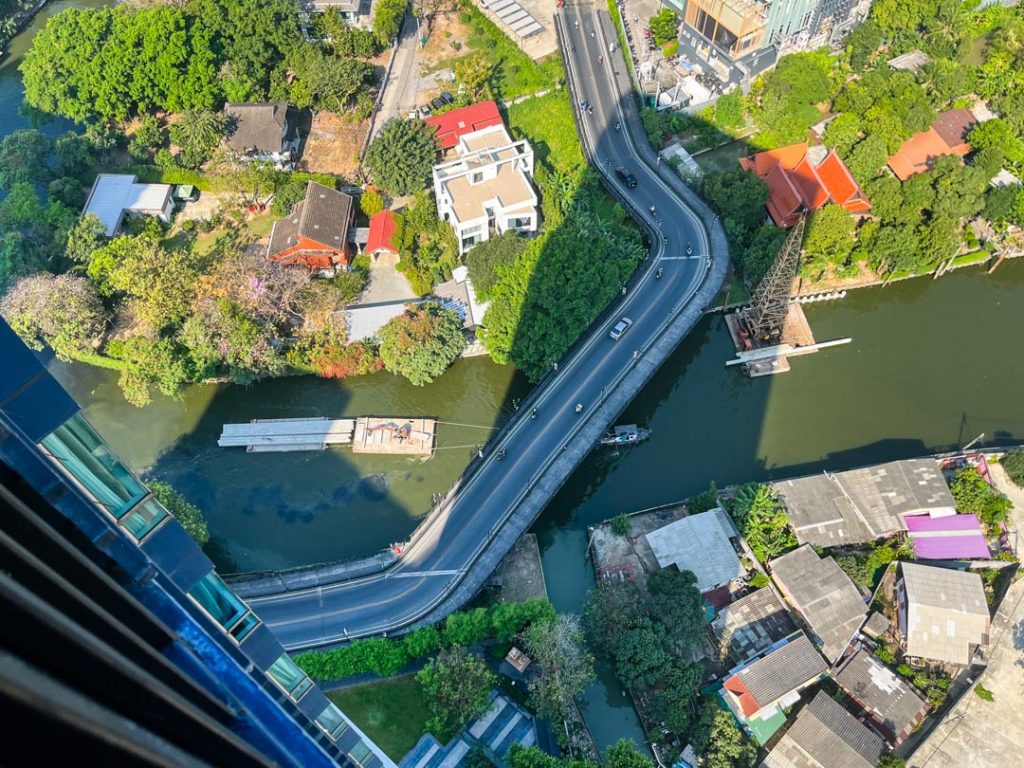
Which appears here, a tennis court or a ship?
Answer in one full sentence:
The one in the frame is a ship.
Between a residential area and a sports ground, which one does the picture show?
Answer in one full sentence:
It's a residential area.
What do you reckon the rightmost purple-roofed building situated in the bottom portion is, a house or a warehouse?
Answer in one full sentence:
The rightmost purple-roofed building situated in the bottom portion is a house.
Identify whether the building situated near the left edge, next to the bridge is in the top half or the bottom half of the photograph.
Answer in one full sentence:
You can find the building situated near the left edge, next to the bridge in the bottom half.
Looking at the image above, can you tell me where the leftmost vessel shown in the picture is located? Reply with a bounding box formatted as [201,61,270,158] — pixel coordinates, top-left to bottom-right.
[217,418,355,454]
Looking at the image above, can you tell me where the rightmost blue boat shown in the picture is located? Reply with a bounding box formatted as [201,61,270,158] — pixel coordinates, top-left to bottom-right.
[600,422,650,443]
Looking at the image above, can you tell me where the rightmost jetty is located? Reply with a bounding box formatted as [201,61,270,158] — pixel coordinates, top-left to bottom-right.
[743,356,789,380]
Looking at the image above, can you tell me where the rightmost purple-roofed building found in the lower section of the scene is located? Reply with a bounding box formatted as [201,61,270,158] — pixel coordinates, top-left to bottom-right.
[899,514,990,563]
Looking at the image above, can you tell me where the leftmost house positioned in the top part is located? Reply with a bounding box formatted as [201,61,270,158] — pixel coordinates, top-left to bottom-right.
[84,174,174,243]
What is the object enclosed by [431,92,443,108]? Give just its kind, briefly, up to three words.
vehicle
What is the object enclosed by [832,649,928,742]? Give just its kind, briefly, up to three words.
house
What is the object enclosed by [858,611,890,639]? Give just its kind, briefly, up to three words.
shed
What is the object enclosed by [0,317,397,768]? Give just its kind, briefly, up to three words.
building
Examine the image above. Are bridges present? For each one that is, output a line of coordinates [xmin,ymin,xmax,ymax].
[220,0,731,659]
